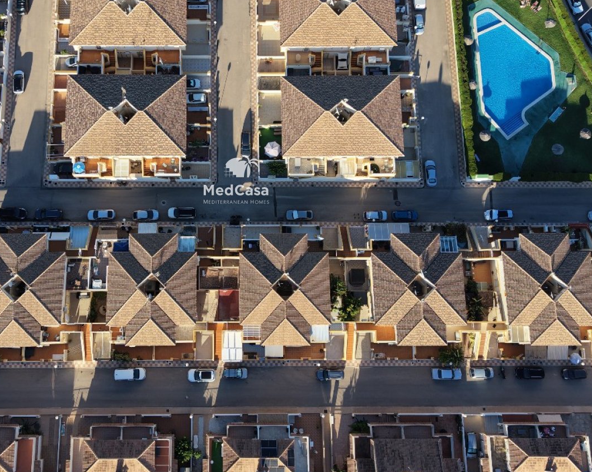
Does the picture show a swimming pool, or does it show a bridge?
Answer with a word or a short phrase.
swimming pool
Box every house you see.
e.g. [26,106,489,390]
[489,232,592,345]
[64,421,182,472]
[203,421,320,472]
[63,74,187,178]
[479,421,592,472]
[0,234,72,347]
[278,0,398,74]
[365,233,466,346]
[239,233,332,346]
[68,0,187,73]
[105,233,197,346]
[280,74,405,179]
[0,421,44,472]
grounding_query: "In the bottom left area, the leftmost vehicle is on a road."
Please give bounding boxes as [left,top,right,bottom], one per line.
[111,367,147,383]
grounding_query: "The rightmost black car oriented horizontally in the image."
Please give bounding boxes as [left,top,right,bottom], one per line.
[559,367,589,382]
